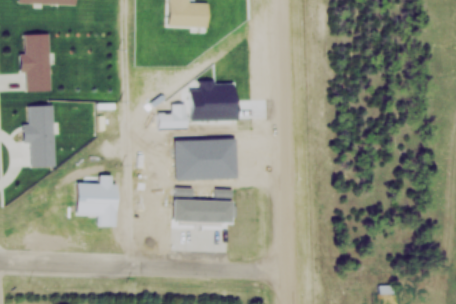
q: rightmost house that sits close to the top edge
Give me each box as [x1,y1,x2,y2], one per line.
[168,0,210,34]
